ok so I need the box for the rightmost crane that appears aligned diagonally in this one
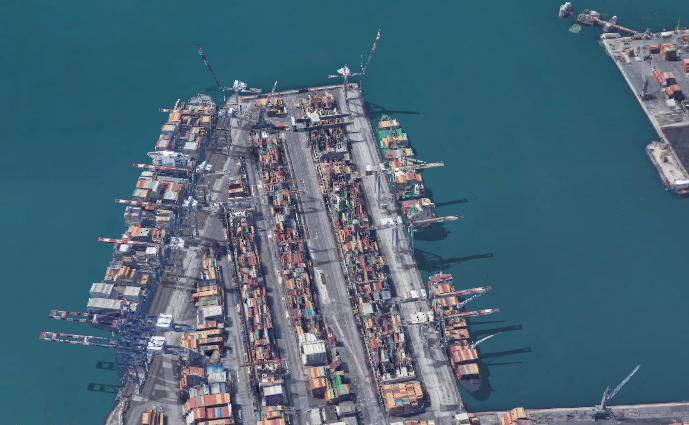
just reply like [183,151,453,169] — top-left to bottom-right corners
[591,358,643,423]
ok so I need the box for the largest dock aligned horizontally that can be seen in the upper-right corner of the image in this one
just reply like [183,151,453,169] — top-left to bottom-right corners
[579,15,638,34]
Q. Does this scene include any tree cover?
No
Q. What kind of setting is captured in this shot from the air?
port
